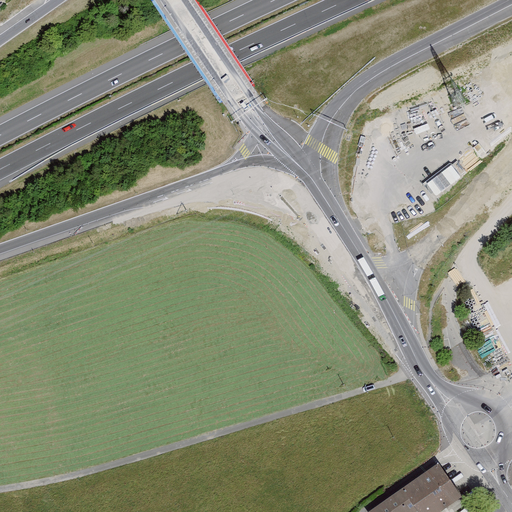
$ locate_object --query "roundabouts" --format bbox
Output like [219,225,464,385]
[418,371,512,512]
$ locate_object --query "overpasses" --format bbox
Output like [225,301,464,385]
[150,0,256,104]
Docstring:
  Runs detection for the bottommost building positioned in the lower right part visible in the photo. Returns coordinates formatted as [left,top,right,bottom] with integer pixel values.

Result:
[368,462,460,512]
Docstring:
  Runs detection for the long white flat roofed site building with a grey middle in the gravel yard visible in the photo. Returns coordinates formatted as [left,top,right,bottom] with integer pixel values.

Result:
[424,162,464,198]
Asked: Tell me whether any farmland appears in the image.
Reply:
Yes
